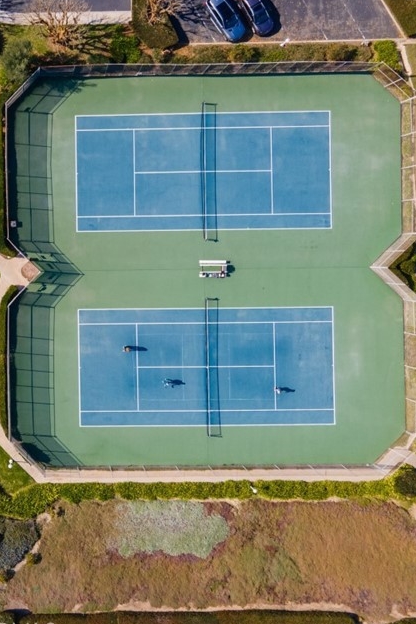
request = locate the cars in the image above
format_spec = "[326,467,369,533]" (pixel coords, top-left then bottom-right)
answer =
[239,0,272,39]
[206,0,244,44]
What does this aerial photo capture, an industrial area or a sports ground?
sports ground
